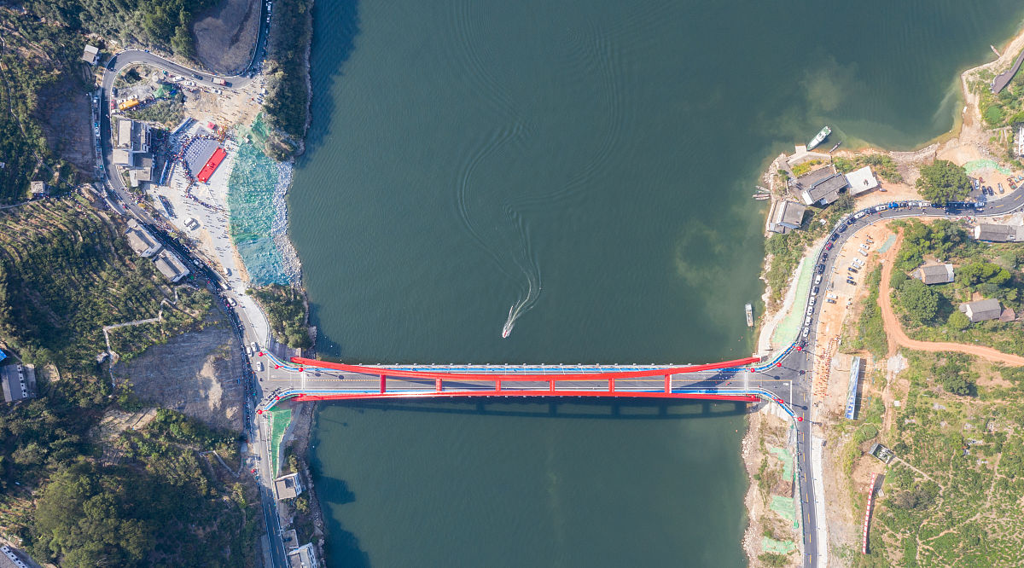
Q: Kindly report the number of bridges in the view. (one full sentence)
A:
Only 1 bridge is visible.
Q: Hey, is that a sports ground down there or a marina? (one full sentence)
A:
The area seen from above is a marina.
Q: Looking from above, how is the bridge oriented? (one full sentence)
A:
The bridge runs from left to right in the image.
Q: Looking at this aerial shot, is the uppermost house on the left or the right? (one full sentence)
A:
You can find the uppermost house on the left side of the picture.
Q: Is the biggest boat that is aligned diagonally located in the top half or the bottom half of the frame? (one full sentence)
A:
The top half of the photo is where the biggest boat that is aligned diagonally is.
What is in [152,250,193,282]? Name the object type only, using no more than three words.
house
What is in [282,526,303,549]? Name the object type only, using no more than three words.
house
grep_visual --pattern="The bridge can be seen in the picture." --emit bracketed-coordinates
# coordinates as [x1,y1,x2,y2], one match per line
[260,338,800,421]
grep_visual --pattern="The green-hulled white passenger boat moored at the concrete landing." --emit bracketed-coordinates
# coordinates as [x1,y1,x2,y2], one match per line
[808,126,831,149]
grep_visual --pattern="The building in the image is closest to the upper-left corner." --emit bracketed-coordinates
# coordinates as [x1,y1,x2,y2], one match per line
[82,44,105,68]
